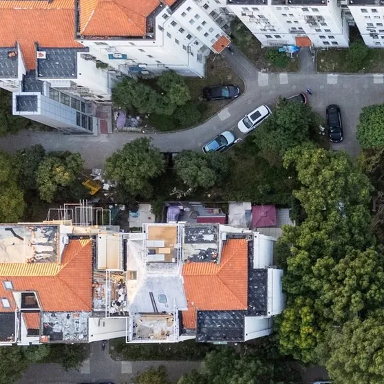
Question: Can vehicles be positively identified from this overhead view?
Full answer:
Yes, the image includes a vehicle.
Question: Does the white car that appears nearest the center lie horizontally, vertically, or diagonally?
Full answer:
The white car that appears nearest the center is laid out diagonally.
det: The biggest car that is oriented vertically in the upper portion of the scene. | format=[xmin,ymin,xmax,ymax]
[326,104,343,142]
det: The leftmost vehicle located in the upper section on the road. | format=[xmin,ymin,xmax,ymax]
[204,130,234,153]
